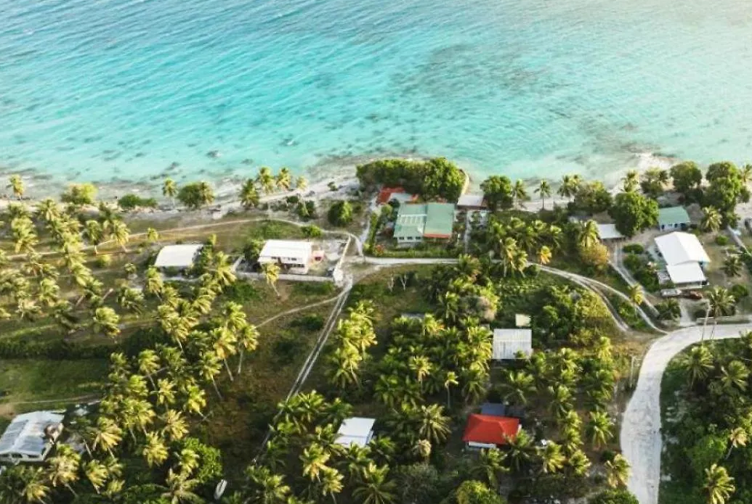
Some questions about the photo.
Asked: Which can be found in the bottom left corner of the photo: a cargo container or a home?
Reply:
home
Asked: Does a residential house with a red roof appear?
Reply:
Yes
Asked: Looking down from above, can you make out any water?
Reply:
Yes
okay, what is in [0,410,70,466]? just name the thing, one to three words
house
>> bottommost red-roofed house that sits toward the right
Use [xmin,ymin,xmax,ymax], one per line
[464,414,519,453]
